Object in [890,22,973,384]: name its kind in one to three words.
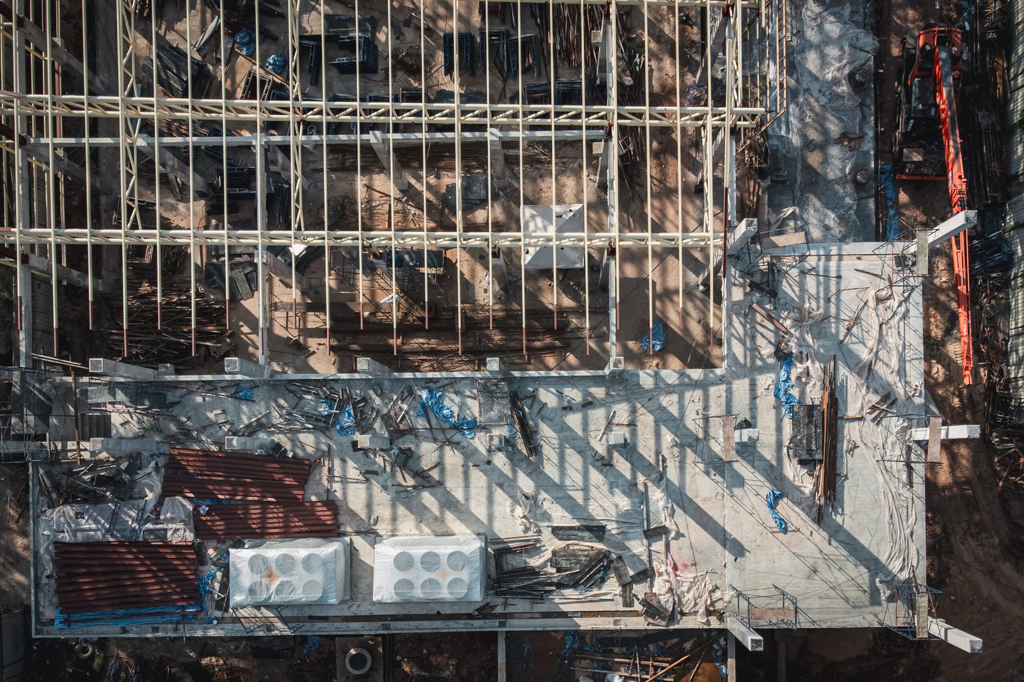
crane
